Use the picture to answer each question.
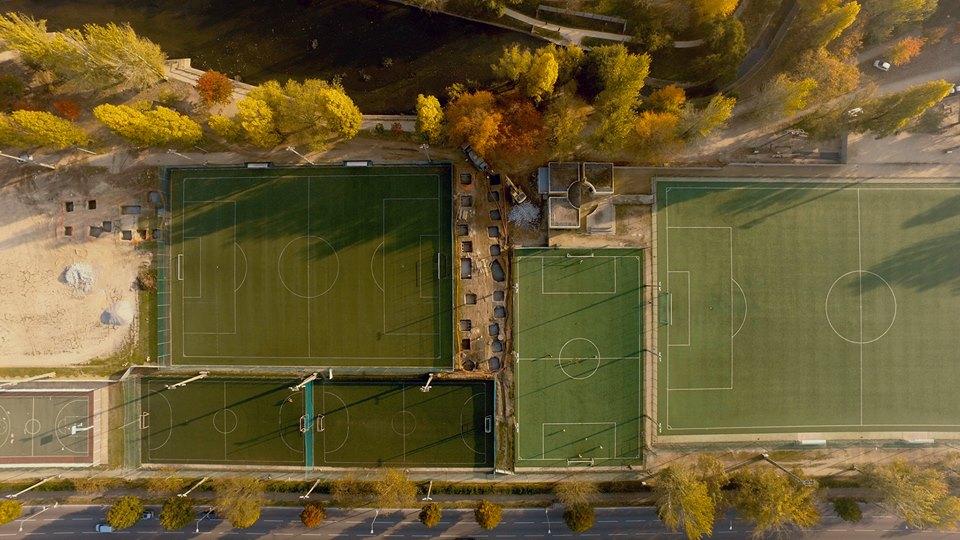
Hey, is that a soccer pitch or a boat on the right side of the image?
soccer pitch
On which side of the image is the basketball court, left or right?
left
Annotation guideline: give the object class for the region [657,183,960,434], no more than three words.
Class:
soccer field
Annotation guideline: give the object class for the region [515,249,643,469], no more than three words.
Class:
soccer field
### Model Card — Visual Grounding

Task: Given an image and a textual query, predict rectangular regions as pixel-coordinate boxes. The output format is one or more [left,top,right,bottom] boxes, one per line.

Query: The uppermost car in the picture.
[874,59,892,72]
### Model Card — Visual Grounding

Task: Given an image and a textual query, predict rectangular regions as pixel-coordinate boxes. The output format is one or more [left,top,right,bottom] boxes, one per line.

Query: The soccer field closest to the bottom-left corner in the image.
[141,377,312,467]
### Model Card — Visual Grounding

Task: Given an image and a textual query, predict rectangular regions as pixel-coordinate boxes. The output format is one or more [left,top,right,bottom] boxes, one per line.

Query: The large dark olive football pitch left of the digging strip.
[171,165,454,368]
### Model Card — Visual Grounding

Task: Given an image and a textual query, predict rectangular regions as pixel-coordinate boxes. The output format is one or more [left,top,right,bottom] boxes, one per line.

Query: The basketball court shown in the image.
[0,390,94,465]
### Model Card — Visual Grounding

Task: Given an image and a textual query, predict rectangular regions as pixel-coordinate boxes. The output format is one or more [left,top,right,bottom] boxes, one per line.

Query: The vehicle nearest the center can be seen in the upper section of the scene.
[502,172,531,208]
